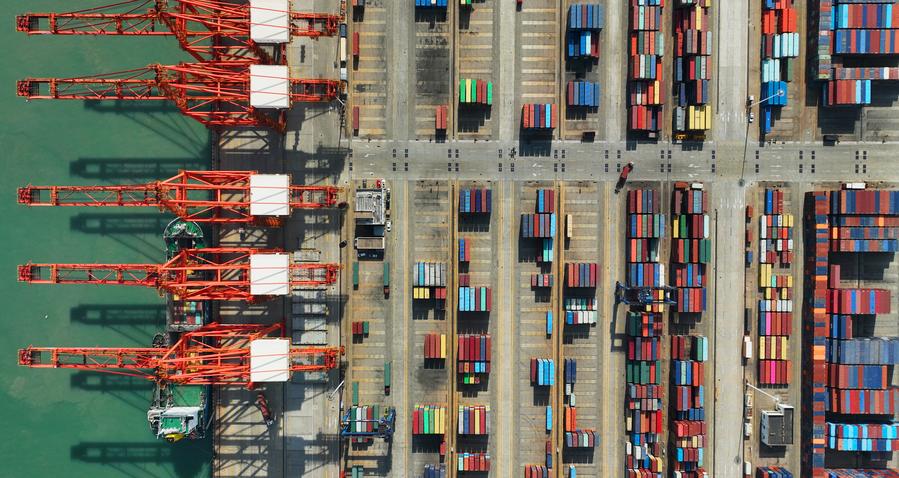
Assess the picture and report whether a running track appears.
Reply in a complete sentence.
No, this view has no running track in it.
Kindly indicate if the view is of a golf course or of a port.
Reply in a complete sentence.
What you see here is a port.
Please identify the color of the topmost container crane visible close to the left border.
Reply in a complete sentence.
The topmost container crane visible close to the left border looks red in the image.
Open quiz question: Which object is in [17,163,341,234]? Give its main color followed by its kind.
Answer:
red container crane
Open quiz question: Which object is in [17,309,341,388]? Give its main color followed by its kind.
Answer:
red container crane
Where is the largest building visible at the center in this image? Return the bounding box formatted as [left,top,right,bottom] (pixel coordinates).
[356,190,385,224]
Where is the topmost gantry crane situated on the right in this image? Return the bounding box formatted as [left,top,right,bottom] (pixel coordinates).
[618,280,679,307]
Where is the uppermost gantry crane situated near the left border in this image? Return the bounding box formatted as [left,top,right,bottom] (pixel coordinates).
[17,0,342,77]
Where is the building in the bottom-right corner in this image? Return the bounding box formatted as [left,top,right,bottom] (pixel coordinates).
[761,400,795,445]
